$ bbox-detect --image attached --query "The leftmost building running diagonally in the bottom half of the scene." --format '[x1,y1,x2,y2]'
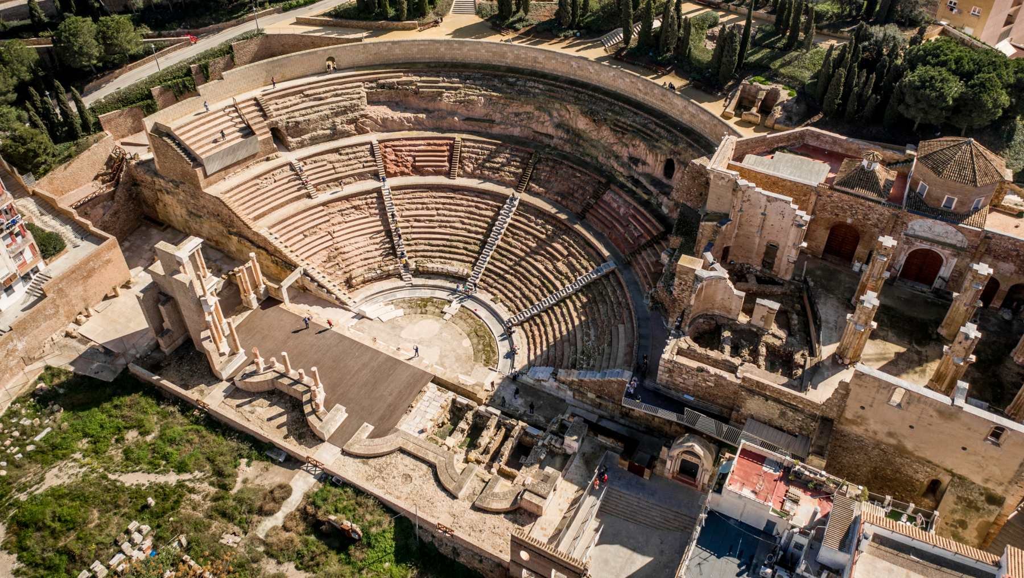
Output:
[153,236,563,518]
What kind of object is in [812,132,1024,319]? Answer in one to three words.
church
